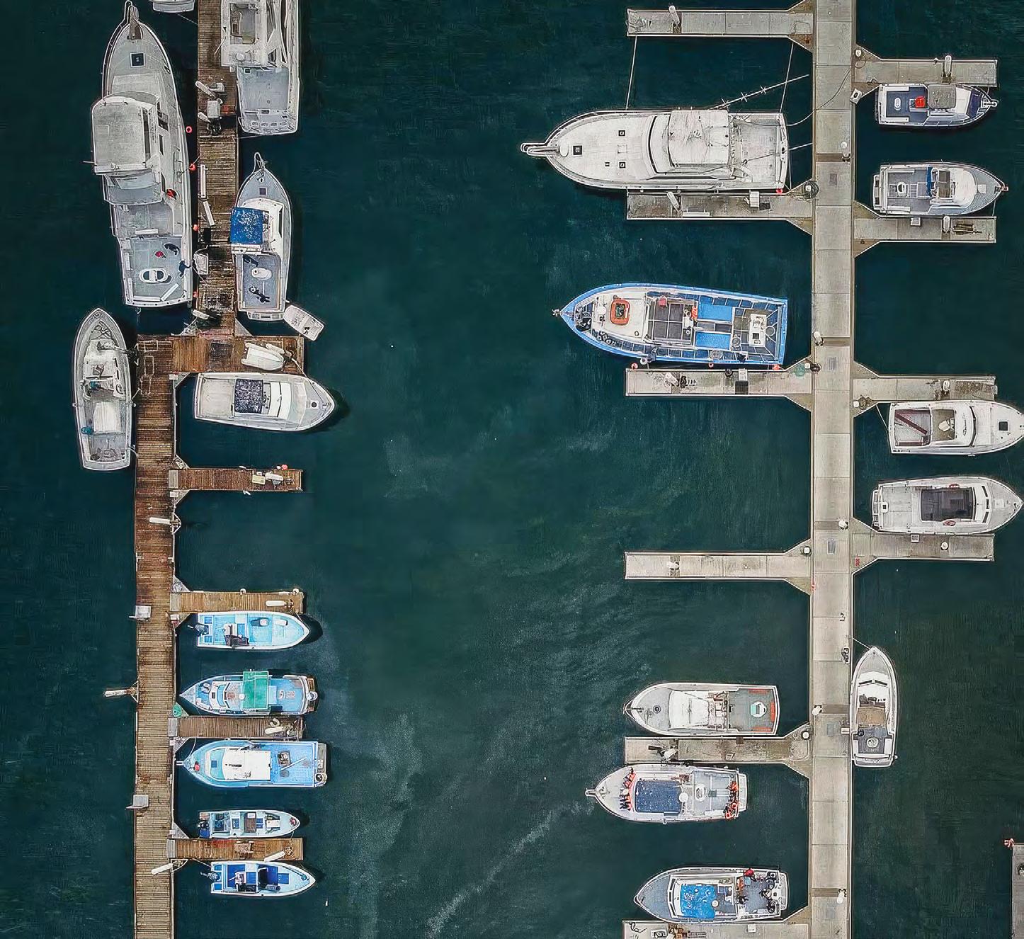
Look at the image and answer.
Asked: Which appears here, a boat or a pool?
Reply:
boat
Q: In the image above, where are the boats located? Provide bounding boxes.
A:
[83,1,197,312]
[875,83,999,127]
[190,610,311,650]
[634,866,787,924]
[874,159,1009,217]
[230,153,293,321]
[521,74,809,192]
[176,739,329,788]
[890,399,1024,457]
[552,282,789,364]
[626,681,780,737]
[71,307,136,472]
[194,373,337,431]
[284,305,326,341]
[849,645,898,767]
[196,860,317,897]
[871,476,1023,535]
[179,669,326,716]
[199,809,301,839]
[214,0,305,140]
[151,0,198,13]
[586,762,747,825]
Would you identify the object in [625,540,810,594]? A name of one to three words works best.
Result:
pier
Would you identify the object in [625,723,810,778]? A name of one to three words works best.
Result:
pier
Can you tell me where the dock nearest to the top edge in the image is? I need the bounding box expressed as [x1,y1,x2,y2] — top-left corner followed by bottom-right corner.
[627,0,813,54]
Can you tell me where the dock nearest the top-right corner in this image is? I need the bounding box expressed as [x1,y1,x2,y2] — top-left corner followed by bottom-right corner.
[855,43,997,105]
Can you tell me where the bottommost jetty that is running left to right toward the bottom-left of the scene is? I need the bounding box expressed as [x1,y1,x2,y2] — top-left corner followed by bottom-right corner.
[169,823,305,875]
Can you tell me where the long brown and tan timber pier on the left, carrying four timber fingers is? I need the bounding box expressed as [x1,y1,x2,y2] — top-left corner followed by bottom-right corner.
[135,372,177,939]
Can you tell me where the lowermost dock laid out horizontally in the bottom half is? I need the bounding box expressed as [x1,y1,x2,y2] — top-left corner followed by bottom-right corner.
[622,905,809,939]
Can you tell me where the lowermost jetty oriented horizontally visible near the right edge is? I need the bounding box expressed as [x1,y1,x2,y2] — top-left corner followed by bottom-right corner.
[853,517,994,576]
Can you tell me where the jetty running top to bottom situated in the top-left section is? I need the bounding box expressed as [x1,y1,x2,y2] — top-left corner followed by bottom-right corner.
[197,0,241,336]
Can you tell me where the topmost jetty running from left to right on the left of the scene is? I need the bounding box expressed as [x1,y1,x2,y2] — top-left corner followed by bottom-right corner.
[169,455,305,506]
